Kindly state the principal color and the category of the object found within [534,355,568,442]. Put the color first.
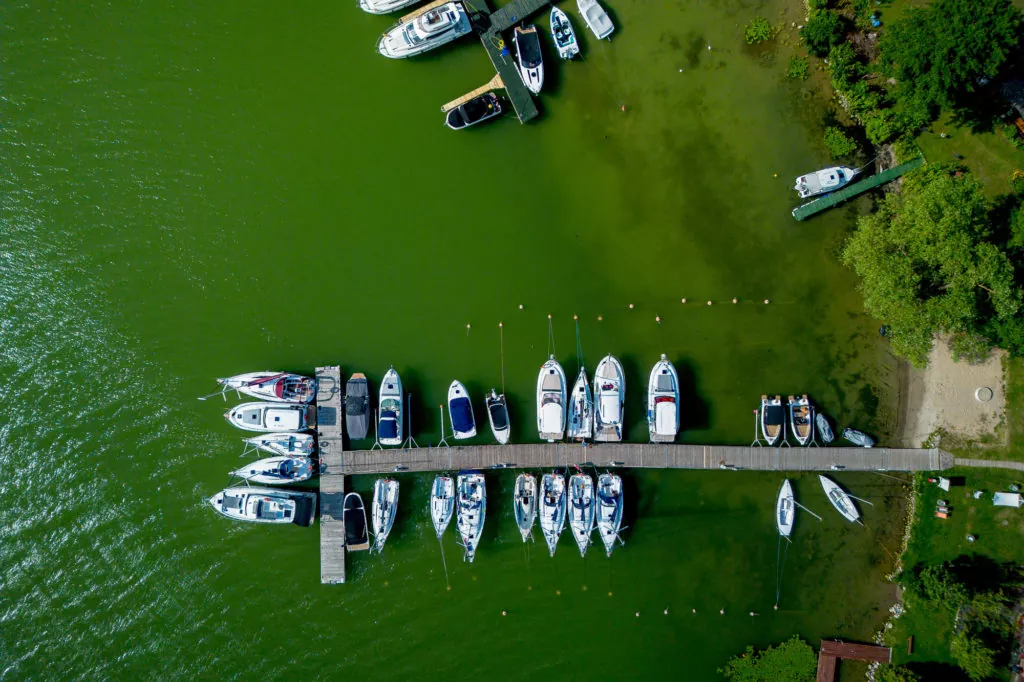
white boat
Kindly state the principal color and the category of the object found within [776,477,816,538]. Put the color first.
white boat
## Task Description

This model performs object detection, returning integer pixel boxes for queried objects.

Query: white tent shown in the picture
[986,490,1021,507]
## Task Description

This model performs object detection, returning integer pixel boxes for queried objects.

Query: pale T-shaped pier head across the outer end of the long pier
[315,366,345,584]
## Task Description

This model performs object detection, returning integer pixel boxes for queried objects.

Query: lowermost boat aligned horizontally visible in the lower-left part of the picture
[205,484,320,525]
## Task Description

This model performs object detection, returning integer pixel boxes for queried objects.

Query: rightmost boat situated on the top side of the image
[790,165,860,196]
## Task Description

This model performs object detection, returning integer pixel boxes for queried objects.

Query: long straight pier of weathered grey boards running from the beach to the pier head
[342,443,954,474]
